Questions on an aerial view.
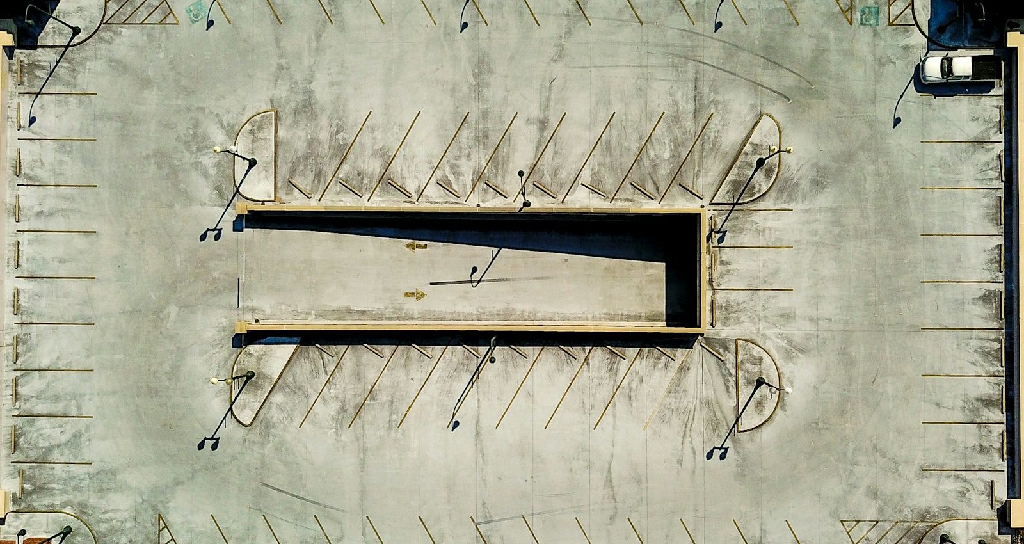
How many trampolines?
zero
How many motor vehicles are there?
one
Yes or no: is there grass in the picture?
No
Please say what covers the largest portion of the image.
paved ground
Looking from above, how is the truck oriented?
from left to right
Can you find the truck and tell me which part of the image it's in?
top right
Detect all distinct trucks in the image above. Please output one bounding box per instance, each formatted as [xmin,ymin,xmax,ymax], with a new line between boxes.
[918,52,1002,86]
